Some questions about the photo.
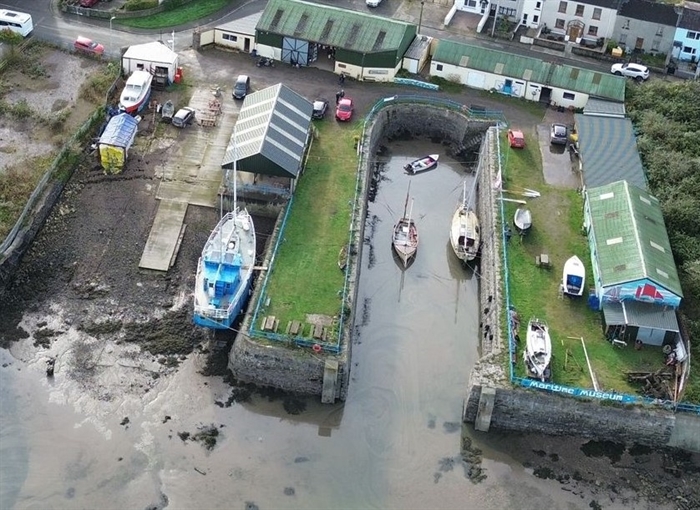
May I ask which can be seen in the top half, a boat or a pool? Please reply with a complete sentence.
You can see a boat in the top half.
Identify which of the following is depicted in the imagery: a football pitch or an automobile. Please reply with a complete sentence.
The one in the frame is an automobile.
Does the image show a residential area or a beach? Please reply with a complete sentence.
This looks like a residential area.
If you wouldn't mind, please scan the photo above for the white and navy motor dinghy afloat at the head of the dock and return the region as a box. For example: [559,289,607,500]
[403,152,439,178]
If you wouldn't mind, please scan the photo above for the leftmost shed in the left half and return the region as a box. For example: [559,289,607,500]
[118,41,187,84]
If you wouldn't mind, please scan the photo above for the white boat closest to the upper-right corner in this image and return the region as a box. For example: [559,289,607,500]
[513,204,531,232]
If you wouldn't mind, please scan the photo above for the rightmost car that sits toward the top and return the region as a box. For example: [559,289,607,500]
[612,62,649,79]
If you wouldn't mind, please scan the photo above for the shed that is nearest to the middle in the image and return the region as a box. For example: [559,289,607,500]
[219,85,318,199]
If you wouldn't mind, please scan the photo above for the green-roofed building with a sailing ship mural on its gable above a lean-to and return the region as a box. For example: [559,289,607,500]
[578,179,686,355]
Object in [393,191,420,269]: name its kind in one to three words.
boat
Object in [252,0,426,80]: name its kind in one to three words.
shed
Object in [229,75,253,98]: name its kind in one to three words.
car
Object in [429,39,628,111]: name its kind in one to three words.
building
